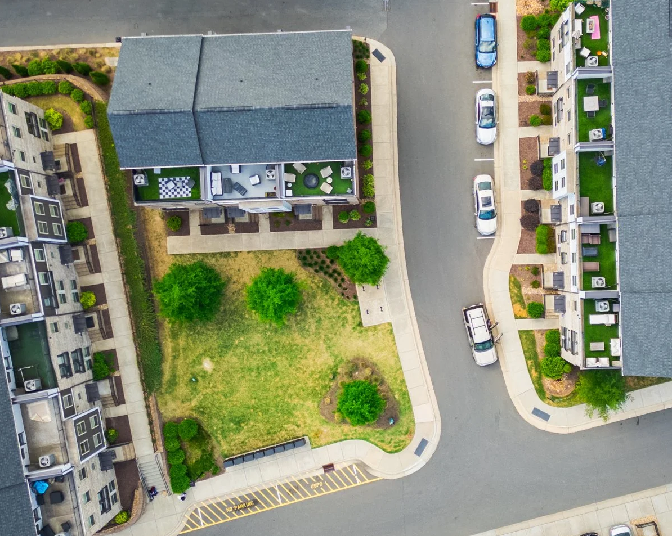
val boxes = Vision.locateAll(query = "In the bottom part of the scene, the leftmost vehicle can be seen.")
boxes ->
[464,305,502,365]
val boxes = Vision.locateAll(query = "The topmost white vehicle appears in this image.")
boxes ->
[474,88,500,144]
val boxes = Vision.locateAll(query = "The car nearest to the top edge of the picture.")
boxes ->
[474,12,500,68]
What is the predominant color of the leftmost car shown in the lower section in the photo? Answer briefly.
white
